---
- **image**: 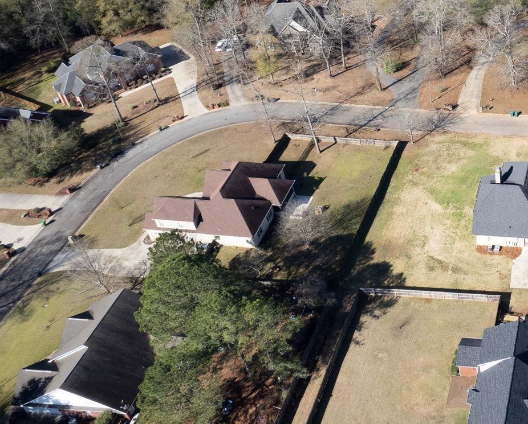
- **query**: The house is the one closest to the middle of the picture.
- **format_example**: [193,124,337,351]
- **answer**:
[143,161,295,247]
